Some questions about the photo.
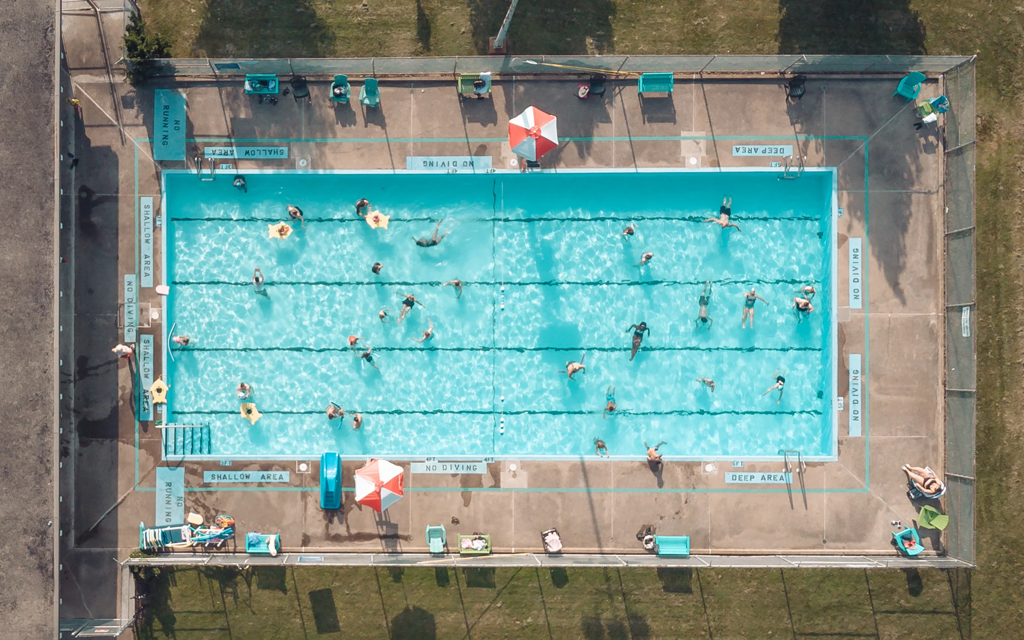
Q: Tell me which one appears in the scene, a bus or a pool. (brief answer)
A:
pool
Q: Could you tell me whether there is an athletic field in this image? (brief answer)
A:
No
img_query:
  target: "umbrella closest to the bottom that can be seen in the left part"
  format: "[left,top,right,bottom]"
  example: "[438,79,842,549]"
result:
[356,457,404,512]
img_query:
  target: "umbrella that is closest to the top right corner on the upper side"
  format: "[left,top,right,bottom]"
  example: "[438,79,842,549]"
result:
[510,108,559,163]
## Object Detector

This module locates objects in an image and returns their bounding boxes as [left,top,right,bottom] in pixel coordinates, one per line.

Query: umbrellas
[356,457,404,512]
[510,108,559,163]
